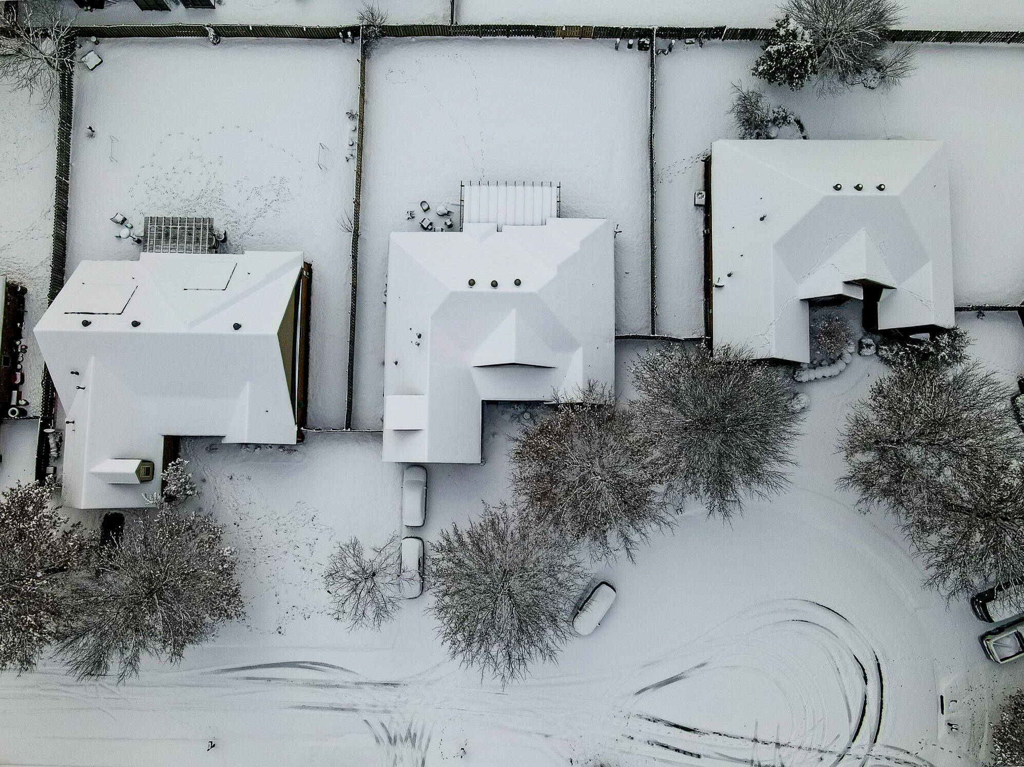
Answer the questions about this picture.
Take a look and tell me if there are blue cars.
No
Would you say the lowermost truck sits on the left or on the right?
right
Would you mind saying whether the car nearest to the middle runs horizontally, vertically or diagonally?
vertically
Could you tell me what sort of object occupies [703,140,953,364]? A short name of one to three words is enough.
house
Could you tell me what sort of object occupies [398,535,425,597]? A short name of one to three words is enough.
vehicle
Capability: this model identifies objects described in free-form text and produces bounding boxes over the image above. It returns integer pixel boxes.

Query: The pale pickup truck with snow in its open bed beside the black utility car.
[980,619,1024,662]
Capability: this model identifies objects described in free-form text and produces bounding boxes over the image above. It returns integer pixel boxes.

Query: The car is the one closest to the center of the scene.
[400,464,428,526]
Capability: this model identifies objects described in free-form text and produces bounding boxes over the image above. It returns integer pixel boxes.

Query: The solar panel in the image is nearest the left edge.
[60,280,138,313]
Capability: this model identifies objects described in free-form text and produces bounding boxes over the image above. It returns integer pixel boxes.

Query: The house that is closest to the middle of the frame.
[383,219,624,464]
